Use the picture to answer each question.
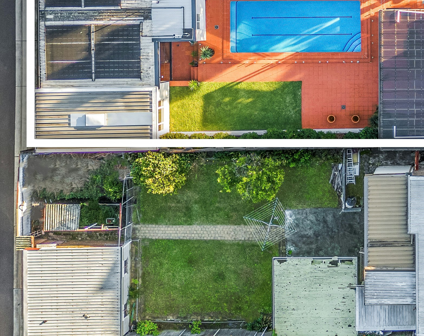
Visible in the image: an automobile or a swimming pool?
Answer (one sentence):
The one in the frame is a swimming pool.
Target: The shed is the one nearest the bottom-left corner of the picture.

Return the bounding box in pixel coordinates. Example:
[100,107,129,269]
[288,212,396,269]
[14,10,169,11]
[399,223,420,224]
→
[23,240,131,336]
